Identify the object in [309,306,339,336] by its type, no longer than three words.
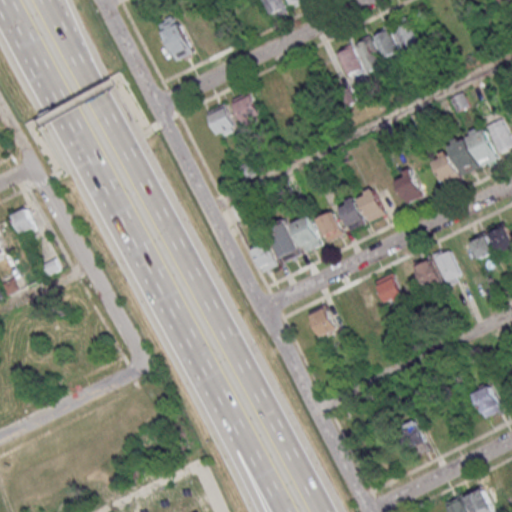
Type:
house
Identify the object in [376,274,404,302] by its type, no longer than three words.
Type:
house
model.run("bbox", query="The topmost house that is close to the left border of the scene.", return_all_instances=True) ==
[10,206,40,236]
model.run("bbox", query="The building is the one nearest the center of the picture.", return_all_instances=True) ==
[252,242,280,273]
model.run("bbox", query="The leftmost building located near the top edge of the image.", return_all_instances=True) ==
[160,17,194,63]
